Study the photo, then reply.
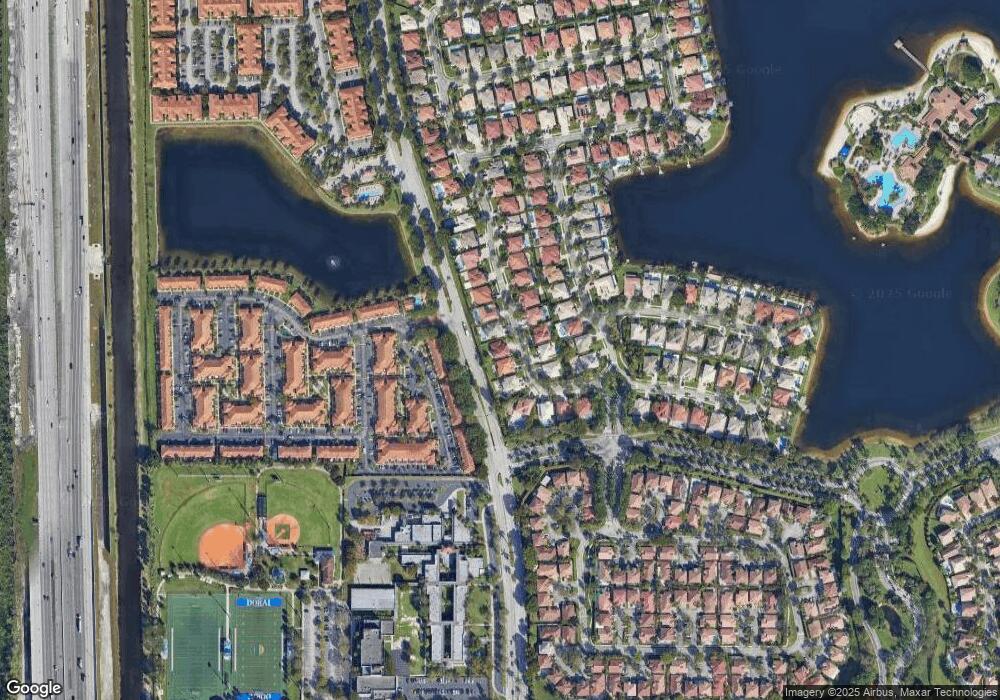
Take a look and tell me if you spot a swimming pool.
Yes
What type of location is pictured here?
residential area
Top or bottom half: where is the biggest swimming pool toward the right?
top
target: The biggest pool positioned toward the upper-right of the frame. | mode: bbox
[865,170,906,208]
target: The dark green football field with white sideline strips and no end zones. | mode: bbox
[168,594,227,700]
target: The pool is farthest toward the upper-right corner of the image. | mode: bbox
[889,127,920,150]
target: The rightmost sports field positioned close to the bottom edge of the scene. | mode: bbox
[231,594,288,700]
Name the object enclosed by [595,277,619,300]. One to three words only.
house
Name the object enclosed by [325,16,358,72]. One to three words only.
building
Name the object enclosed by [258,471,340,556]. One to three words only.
baseball field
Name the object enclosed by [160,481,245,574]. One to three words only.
baseball field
